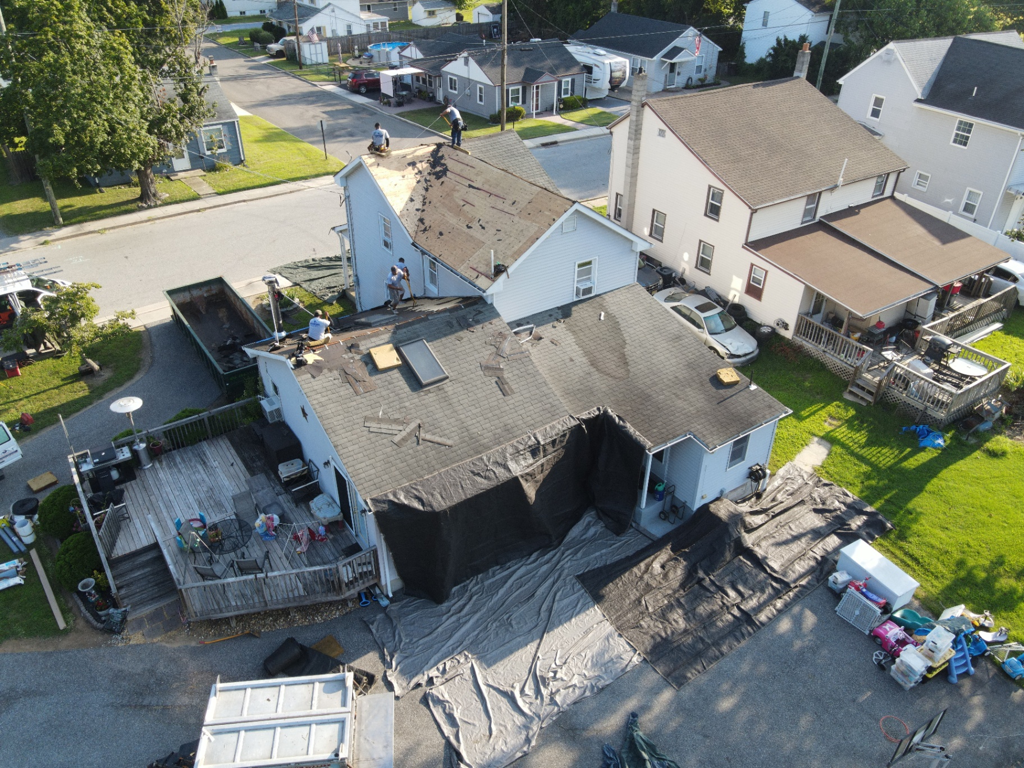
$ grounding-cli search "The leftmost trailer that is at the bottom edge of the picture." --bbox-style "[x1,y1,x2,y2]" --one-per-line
[197,666,408,768]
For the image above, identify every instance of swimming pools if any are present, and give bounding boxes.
[368,43,413,64]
